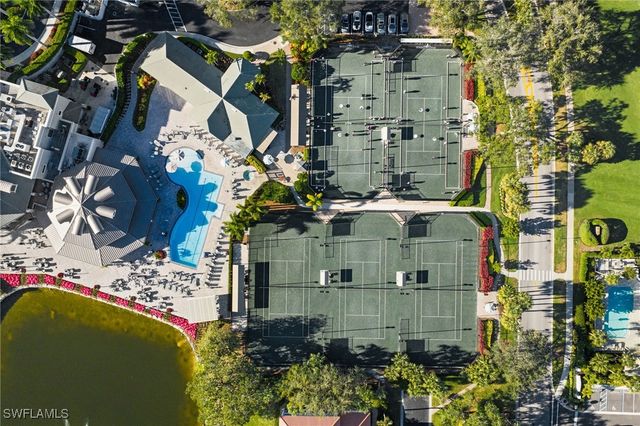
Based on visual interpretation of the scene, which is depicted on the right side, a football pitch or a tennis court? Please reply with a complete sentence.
You can see a tennis court on the right side.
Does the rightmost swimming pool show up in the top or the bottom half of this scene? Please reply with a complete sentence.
Seen from above, the rightmost swimming pool lies in the bottom half of the view.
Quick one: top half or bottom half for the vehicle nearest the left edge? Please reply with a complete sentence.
The top half of the photo is where the vehicle nearest the left edge is.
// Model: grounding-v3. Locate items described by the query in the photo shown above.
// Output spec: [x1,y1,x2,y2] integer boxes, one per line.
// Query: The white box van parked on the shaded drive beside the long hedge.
[67,34,98,55]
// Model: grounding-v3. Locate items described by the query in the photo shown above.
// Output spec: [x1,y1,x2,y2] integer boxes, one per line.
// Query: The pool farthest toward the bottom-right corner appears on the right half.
[605,285,635,339]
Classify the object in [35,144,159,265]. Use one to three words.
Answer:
building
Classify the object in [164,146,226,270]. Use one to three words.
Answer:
swimming pool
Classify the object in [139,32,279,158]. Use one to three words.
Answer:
building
